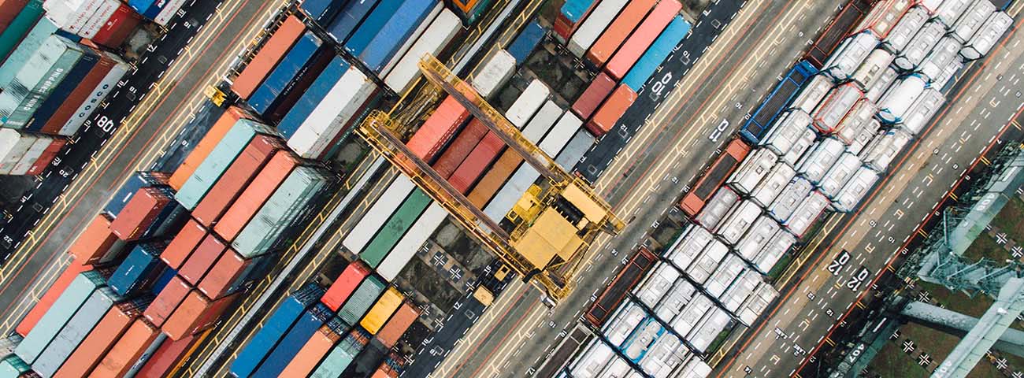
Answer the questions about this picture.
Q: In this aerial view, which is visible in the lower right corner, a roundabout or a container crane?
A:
container crane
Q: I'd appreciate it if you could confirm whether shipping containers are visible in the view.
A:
Yes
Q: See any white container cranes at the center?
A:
No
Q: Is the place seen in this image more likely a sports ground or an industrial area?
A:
industrial area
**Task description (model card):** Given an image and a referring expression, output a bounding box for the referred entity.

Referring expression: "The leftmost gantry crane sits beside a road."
[353,48,624,301]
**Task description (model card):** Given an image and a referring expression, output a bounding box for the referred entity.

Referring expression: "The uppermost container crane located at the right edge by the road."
[921,123,1024,284]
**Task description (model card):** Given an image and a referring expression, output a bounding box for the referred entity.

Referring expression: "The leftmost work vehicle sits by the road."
[198,81,241,115]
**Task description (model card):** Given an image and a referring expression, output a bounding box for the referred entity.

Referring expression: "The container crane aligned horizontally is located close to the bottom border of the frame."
[805,278,1024,378]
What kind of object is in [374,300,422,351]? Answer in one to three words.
shipping container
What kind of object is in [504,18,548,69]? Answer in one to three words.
shipping container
